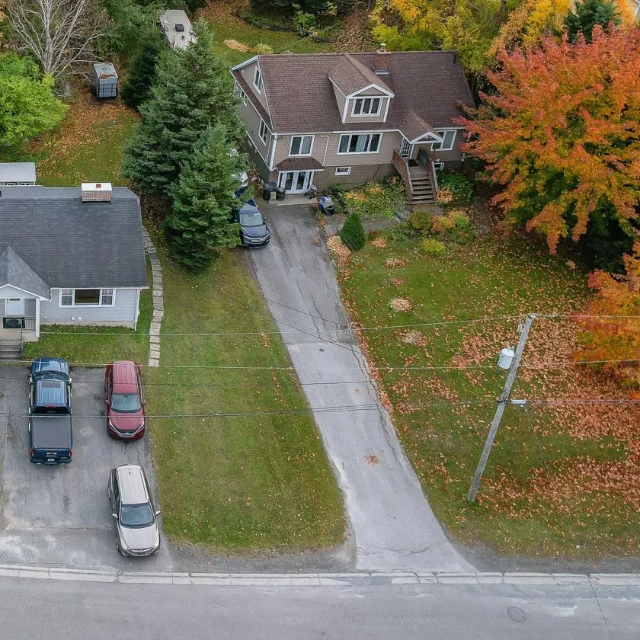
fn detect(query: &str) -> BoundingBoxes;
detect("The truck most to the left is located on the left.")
[24,358,77,462]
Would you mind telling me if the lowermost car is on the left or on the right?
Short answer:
left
